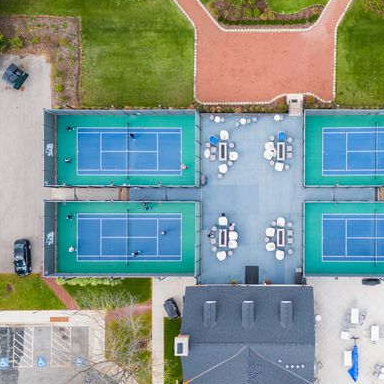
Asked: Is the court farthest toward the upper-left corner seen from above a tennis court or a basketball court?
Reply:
tennis court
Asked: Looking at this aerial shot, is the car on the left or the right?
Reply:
left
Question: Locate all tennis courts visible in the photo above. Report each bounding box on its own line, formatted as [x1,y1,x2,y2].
[303,202,384,274]
[58,115,200,186]
[304,114,384,186]
[58,202,201,274]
